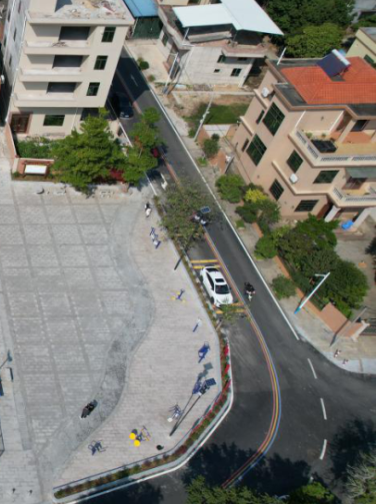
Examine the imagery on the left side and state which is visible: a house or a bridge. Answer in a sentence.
The feature located on the left side is a house.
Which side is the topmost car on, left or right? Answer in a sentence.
The topmost car sits on the left side.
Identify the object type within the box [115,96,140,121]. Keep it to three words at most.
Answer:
car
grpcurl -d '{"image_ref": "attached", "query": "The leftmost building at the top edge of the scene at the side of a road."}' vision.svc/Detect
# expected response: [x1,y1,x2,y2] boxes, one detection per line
[0,0,137,135]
